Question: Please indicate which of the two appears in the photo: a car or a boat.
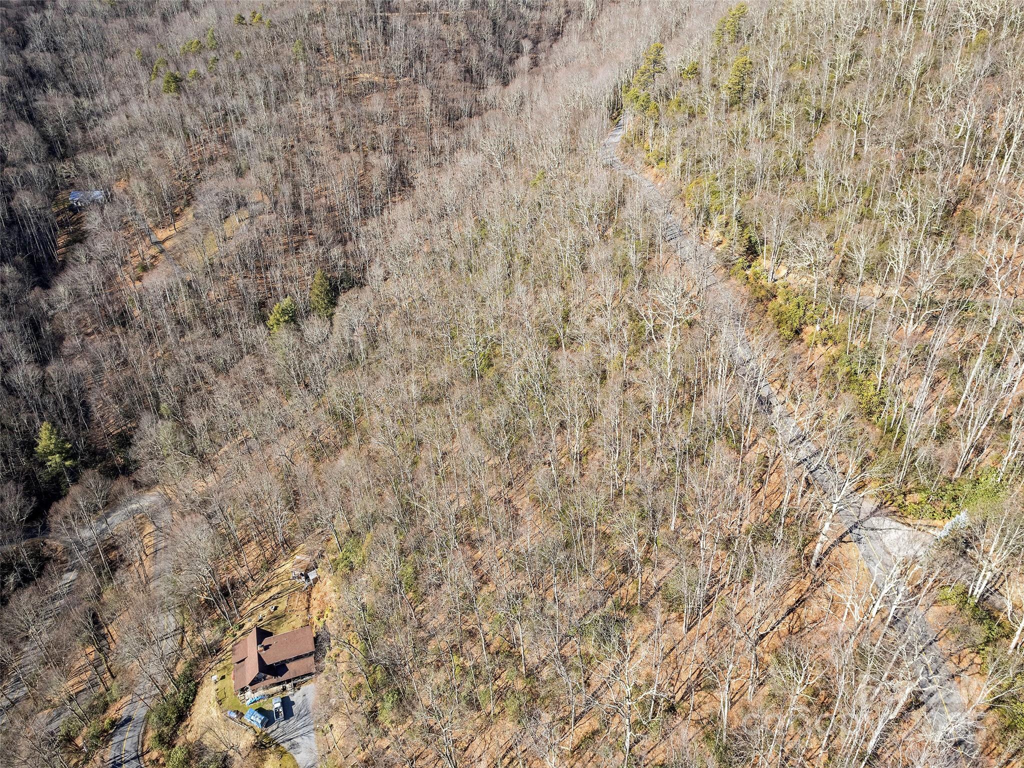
car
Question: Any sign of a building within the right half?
No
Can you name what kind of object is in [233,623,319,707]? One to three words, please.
building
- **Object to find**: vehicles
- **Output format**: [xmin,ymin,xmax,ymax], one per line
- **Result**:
[242,704,269,729]
[271,693,288,724]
